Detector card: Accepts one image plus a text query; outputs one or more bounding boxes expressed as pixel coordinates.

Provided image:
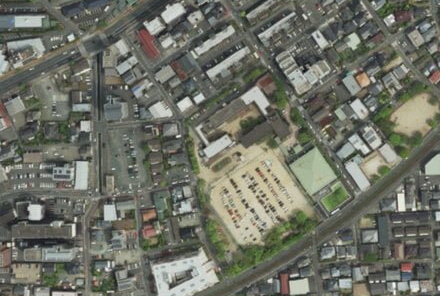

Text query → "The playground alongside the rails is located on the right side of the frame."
[392,93,438,134]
